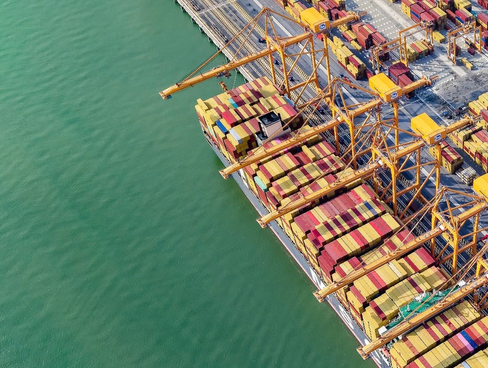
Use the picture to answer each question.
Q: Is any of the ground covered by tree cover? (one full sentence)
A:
No, tree cover can't be seen anywhere here.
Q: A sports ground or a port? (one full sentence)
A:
The picture captures a port.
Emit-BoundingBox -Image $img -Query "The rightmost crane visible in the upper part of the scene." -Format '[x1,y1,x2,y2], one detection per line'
[447,19,484,65]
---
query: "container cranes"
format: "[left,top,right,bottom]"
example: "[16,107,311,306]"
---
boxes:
[447,19,484,65]
[314,171,488,303]
[394,14,438,63]
[358,242,488,362]
[259,114,477,231]
[366,30,404,74]
[161,4,361,107]
[221,73,433,181]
